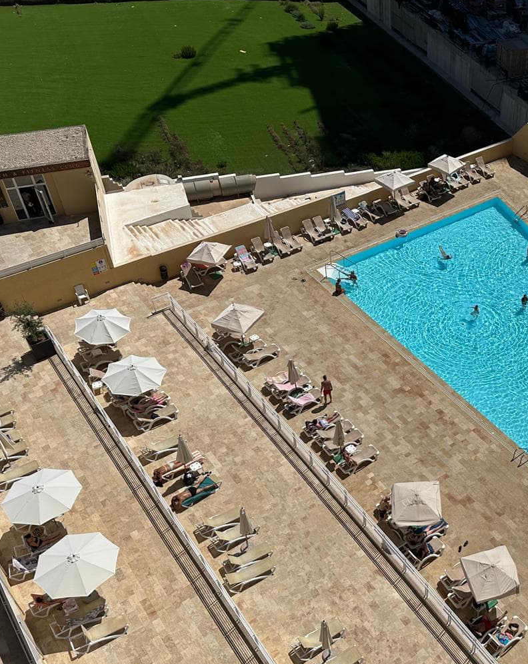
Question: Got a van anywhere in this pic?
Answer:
No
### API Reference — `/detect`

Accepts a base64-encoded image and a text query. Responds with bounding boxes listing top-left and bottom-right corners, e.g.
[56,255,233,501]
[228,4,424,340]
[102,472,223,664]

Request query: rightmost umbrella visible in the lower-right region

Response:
[459,548,525,613]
